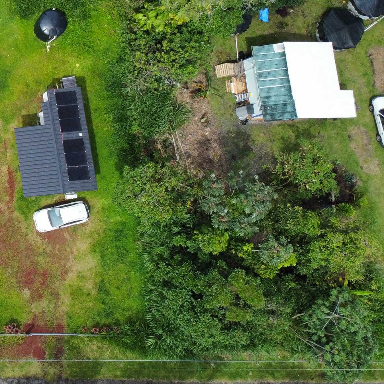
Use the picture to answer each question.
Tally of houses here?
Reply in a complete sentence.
I count 2 houses.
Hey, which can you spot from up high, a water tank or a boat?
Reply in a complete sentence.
The one in the frame is a water tank.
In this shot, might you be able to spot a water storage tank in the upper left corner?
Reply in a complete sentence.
Yes, looking in the upper left corner, one can make out a water storage tank.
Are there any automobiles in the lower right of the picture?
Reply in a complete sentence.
No, no automobile appears in the lower right of the picture.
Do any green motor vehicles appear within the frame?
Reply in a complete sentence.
No, there is no green motor vehicle in the image.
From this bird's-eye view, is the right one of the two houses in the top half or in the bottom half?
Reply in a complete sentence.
The right one of the two houses is in the top half of the image.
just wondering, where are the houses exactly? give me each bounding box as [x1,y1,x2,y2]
[14,88,98,197]
[239,40,358,122]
